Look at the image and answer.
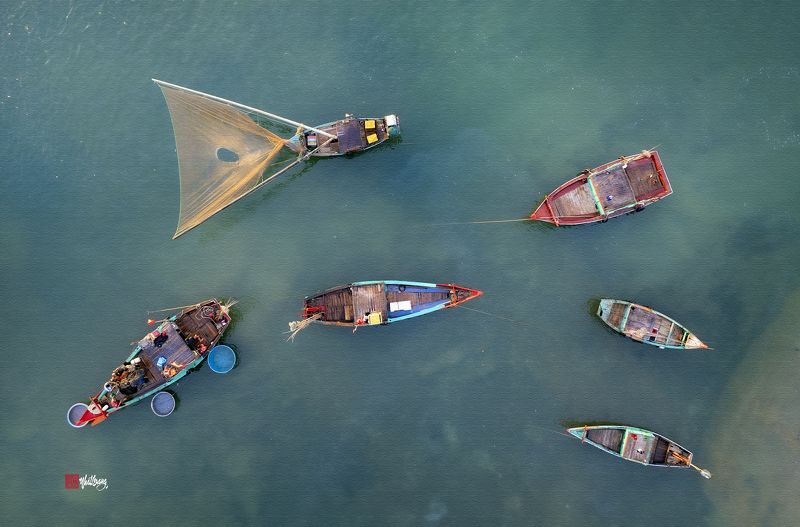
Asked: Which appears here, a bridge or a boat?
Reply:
boat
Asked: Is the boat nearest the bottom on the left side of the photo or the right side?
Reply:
right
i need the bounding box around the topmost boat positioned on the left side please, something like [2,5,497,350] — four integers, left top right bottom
[152,78,400,239]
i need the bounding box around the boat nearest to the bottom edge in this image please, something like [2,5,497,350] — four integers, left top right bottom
[567,424,694,468]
